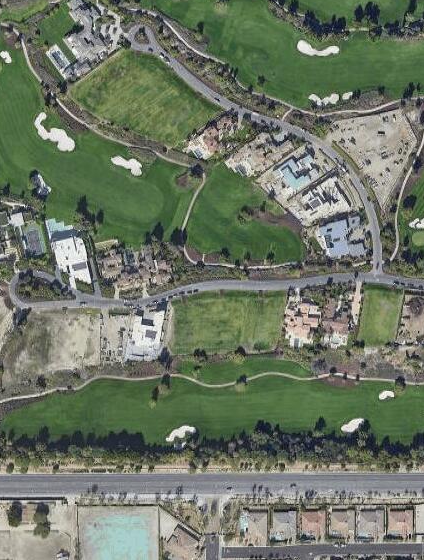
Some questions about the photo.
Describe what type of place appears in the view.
golf course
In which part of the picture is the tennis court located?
left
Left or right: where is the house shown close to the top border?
left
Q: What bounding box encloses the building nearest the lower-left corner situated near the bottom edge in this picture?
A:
[166,526,198,560]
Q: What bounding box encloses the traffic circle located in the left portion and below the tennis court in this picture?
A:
[8,269,81,309]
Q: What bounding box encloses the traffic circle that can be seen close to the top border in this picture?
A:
[127,22,169,60]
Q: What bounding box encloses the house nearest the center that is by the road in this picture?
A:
[139,244,173,284]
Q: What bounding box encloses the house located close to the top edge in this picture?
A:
[63,0,108,77]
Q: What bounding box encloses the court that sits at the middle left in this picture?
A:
[23,224,46,255]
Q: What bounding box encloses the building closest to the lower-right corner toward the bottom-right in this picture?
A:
[388,510,414,537]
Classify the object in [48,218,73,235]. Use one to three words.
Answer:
swimming pool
